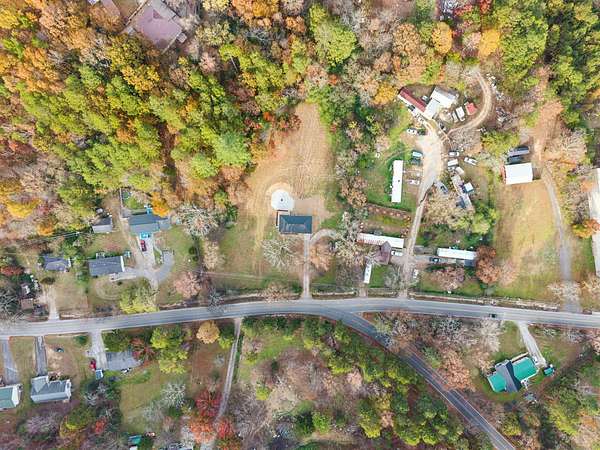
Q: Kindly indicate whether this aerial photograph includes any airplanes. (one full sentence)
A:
No, the picture doesn't show any airplane.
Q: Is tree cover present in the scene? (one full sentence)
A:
Yes, some tree cover is visible.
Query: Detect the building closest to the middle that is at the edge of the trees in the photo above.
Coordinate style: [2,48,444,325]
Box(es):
[279,214,312,235]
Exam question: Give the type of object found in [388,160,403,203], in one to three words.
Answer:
house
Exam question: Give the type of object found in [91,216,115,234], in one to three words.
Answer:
shed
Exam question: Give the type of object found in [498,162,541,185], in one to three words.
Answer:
barn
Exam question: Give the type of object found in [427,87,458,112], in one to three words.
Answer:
building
